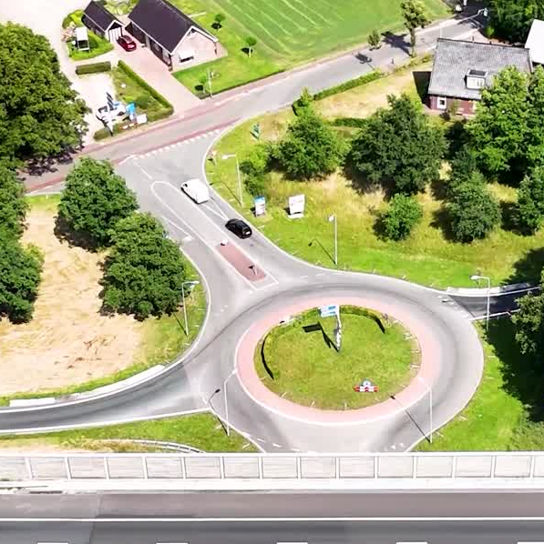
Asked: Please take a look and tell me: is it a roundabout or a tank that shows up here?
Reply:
roundabout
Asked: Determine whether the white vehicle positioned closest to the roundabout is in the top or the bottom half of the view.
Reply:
top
